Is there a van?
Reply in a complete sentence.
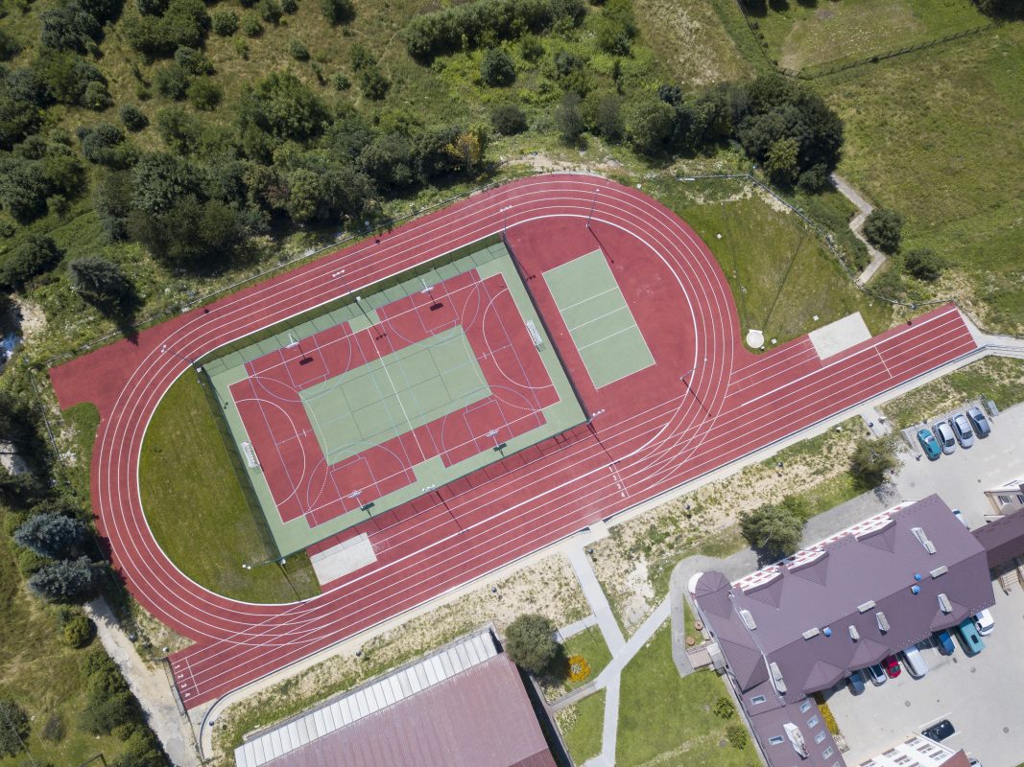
Yes, a van appears in the view.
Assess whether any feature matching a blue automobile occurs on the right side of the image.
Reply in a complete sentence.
Yes, a blue automobile appears on the right side of the image.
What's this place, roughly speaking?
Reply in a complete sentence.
What you see here is a sports ground.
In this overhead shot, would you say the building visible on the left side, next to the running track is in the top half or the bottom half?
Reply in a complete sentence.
You can find the building visible on the left side, next to the running track in the bottom half.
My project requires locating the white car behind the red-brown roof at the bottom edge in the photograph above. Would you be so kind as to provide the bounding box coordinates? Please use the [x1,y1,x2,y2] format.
[961,747,984,767]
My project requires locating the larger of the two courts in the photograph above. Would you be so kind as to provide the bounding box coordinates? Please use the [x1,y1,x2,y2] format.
[203,241,587,557]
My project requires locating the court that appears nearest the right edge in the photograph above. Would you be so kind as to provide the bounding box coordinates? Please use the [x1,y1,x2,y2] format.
[542,249,656,390]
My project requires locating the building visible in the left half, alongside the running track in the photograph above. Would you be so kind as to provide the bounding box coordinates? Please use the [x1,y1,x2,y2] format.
[238,625,556,767]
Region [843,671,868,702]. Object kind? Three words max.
car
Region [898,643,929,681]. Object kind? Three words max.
van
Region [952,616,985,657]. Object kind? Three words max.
van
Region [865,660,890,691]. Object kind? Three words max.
car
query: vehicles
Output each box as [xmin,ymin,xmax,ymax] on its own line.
[865,660,890,691]
[965,405,993,439]
[881,653,904,682]
[915,428,942,462]
[898,643,929,681]
[948,414,975,447]
[952,616,985,657]
[932,627,958,660]
[961,747,984,767]
[970,606,999,641]
[931,421,957,454]
[843,671,868,702]
[919,715,958,745]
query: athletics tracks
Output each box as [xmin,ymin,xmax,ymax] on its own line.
[50,175,979,711]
